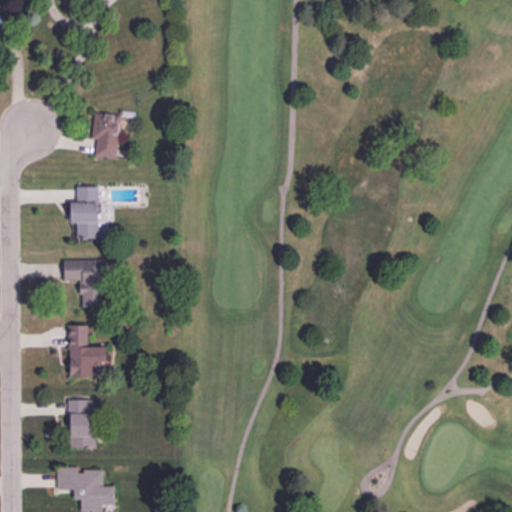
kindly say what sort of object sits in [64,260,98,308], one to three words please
house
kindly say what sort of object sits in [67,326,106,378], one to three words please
house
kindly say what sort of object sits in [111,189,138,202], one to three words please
swimming pool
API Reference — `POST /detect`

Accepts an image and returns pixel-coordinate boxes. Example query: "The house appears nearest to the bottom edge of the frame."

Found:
[56,468,115,512]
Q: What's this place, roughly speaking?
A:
golf course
